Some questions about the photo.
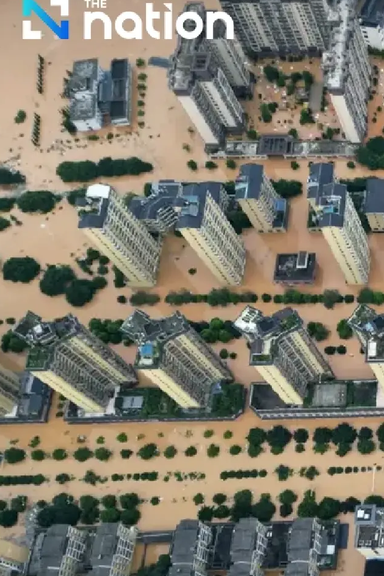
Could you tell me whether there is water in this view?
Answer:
Yes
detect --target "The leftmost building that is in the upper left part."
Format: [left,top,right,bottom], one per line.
[69,60,110,131]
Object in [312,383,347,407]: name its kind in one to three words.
sports court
